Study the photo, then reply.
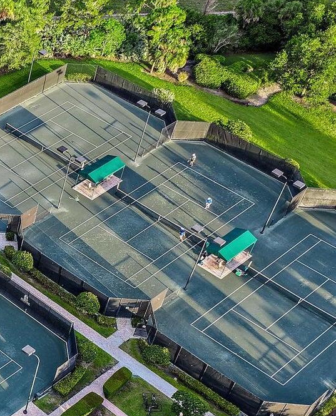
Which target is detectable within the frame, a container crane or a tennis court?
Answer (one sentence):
There is a tennis court in the scene.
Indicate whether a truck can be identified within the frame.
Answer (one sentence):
No, the photo shows no truck.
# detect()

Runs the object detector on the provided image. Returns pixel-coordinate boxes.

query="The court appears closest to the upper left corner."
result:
[0,82,170,228]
